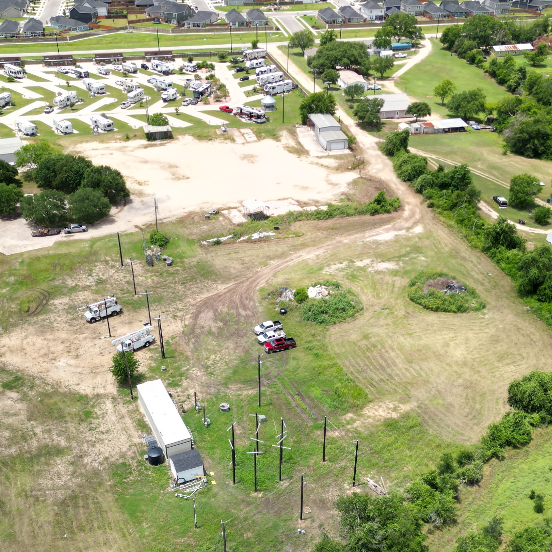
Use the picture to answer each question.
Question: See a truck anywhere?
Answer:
Yes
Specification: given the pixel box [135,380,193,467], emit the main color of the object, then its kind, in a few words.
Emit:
white trailer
